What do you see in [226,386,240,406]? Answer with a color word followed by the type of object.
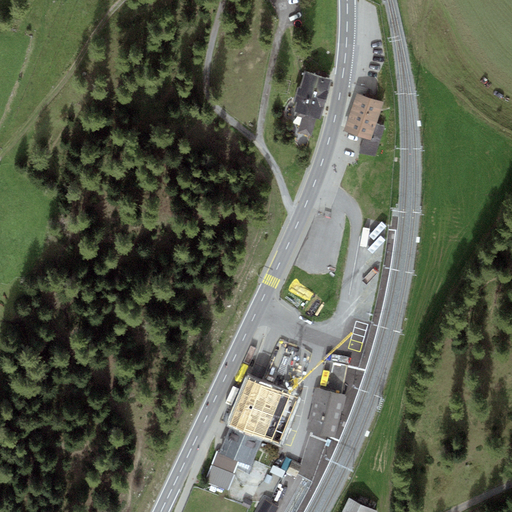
white vehicle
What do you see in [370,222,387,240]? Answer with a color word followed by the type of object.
white vehicle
